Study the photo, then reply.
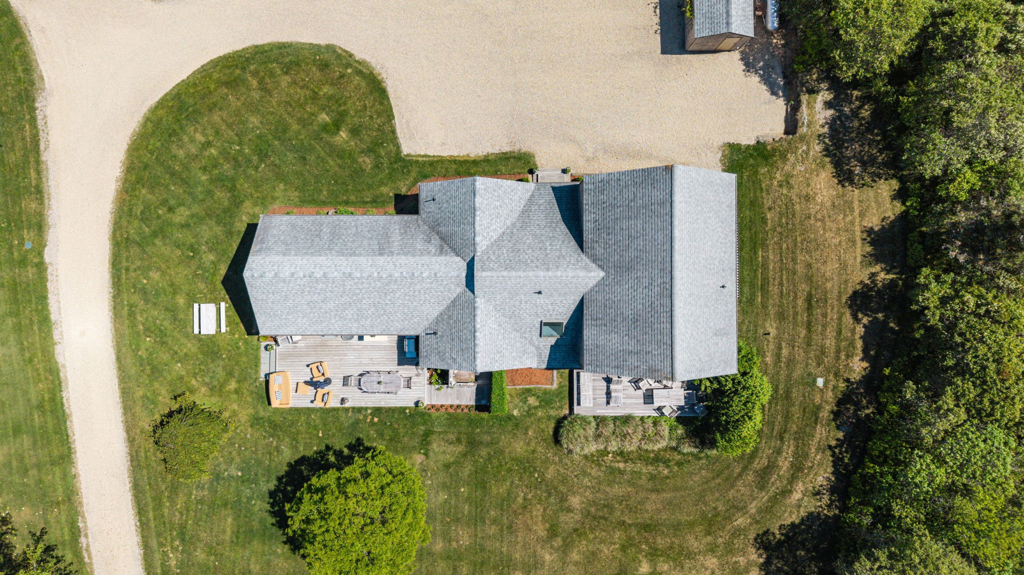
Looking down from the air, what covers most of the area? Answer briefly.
grass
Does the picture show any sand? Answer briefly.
No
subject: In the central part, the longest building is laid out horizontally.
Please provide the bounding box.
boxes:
[242,164,740,381]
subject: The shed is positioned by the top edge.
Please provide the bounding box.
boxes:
[686,0,755,51]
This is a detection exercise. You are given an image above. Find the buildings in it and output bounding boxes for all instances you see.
[242,164,740,381]
[686,0,755,51]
